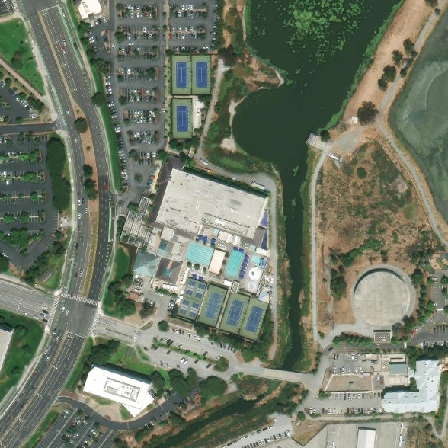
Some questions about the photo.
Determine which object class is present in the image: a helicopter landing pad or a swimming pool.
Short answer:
swimming pool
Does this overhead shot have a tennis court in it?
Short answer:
Yes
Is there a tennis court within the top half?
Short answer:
Yes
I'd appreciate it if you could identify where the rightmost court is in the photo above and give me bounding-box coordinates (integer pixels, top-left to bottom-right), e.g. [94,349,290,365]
[239,298,269,338]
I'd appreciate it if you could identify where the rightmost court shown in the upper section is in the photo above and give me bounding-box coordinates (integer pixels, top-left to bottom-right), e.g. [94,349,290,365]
[192,55,212,94]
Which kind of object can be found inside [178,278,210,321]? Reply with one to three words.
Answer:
tennis court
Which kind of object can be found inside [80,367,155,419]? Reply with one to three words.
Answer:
building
